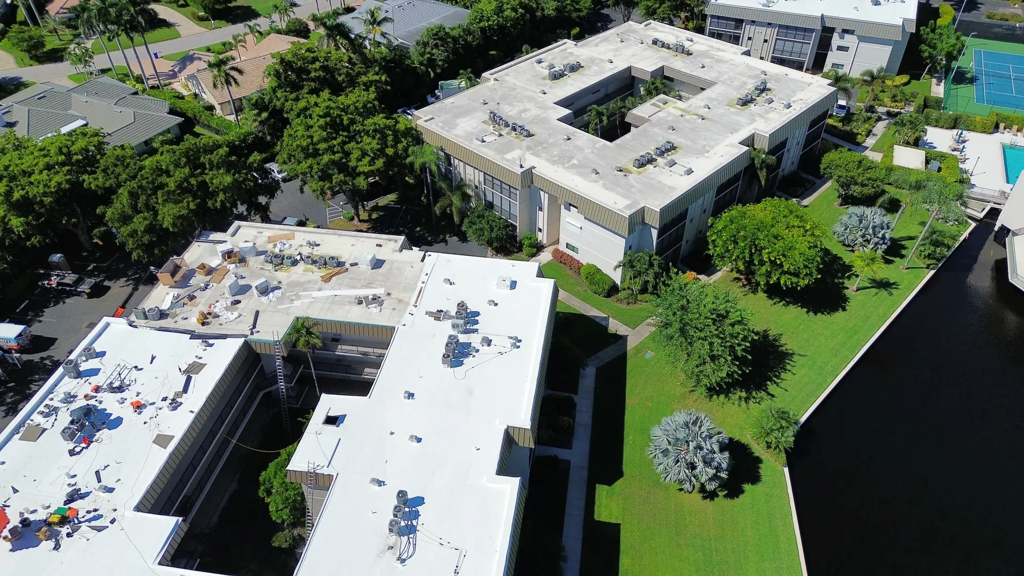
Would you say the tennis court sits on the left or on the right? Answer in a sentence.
The tennis court appears in the right half of the scene.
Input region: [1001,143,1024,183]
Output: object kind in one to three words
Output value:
swimming pool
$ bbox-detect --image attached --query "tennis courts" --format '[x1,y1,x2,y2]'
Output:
[945,38,1024,119]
